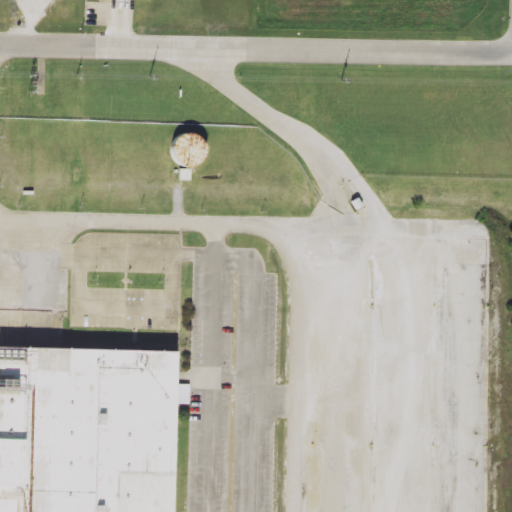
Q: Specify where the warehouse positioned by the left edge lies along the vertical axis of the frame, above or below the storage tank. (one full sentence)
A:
Within the scene, the warehouse positioned by the left edge can be found below the storage tank.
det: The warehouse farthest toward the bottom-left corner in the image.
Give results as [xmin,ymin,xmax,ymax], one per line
[0,346,190,512]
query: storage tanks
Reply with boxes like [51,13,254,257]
[170,133,208,168]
